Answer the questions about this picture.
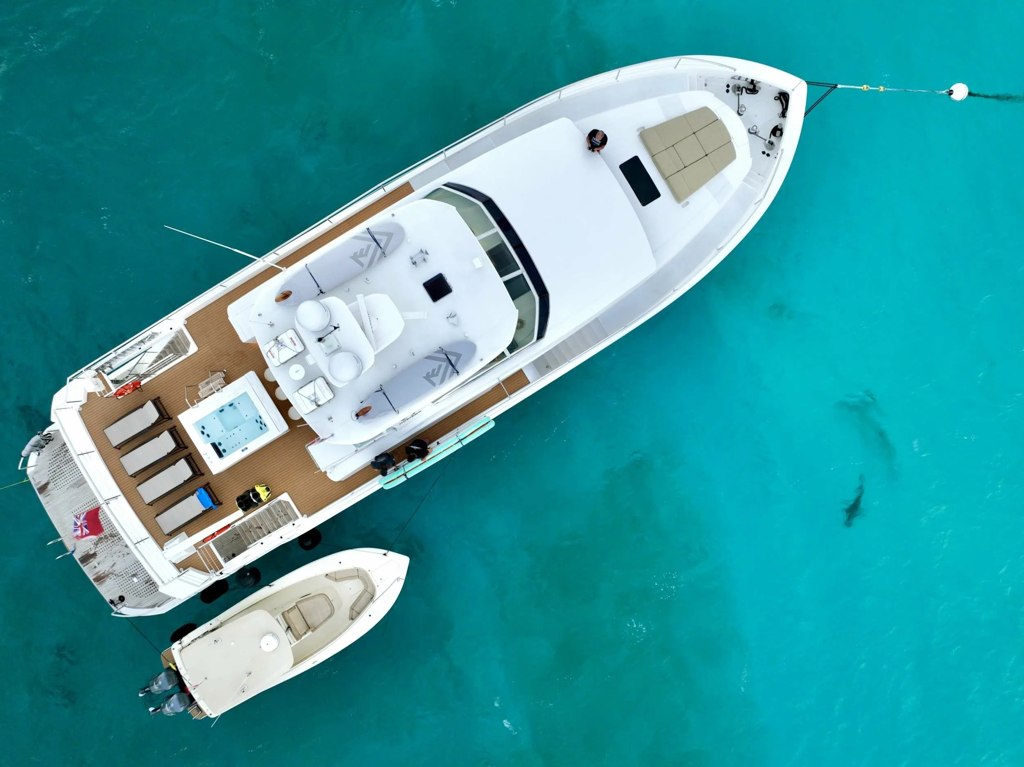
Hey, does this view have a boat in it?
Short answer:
Yes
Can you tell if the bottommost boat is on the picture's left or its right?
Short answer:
left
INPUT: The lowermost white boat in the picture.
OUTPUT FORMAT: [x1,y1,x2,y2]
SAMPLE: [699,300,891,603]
[134,547,411,727]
